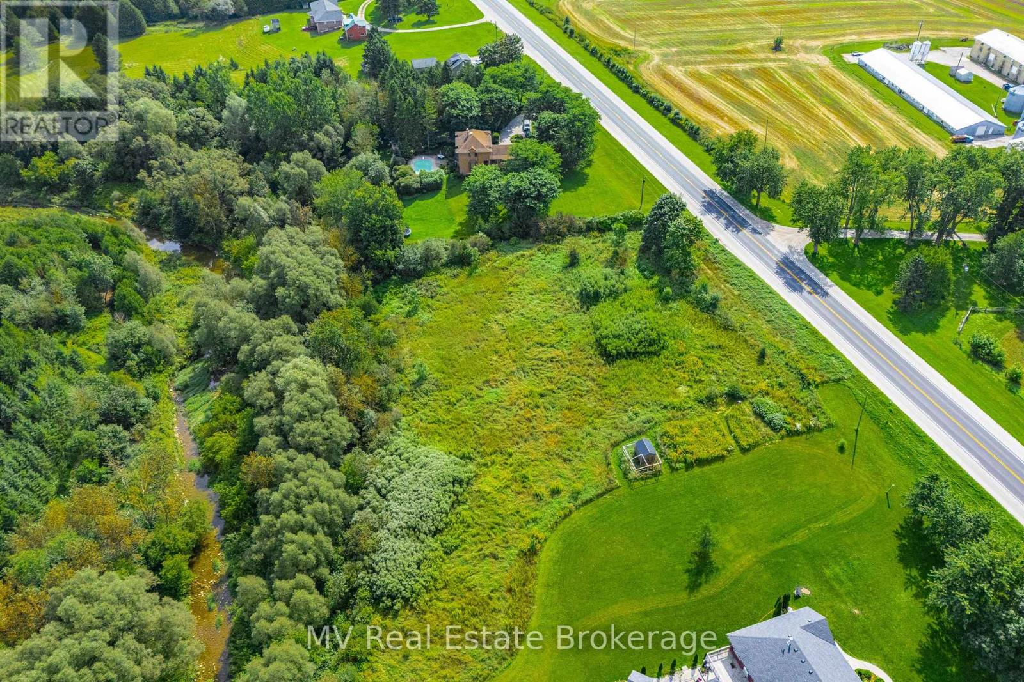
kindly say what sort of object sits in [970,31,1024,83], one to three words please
barn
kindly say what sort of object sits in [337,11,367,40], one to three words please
building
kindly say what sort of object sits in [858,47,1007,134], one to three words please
barn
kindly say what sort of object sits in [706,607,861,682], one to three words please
house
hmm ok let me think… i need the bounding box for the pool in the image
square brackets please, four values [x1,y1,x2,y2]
[406,153,442,175]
